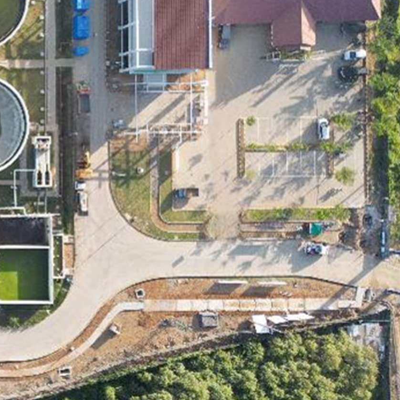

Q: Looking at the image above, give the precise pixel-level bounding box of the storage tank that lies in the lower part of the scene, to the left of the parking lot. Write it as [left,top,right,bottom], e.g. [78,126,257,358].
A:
[0,214,64,304]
